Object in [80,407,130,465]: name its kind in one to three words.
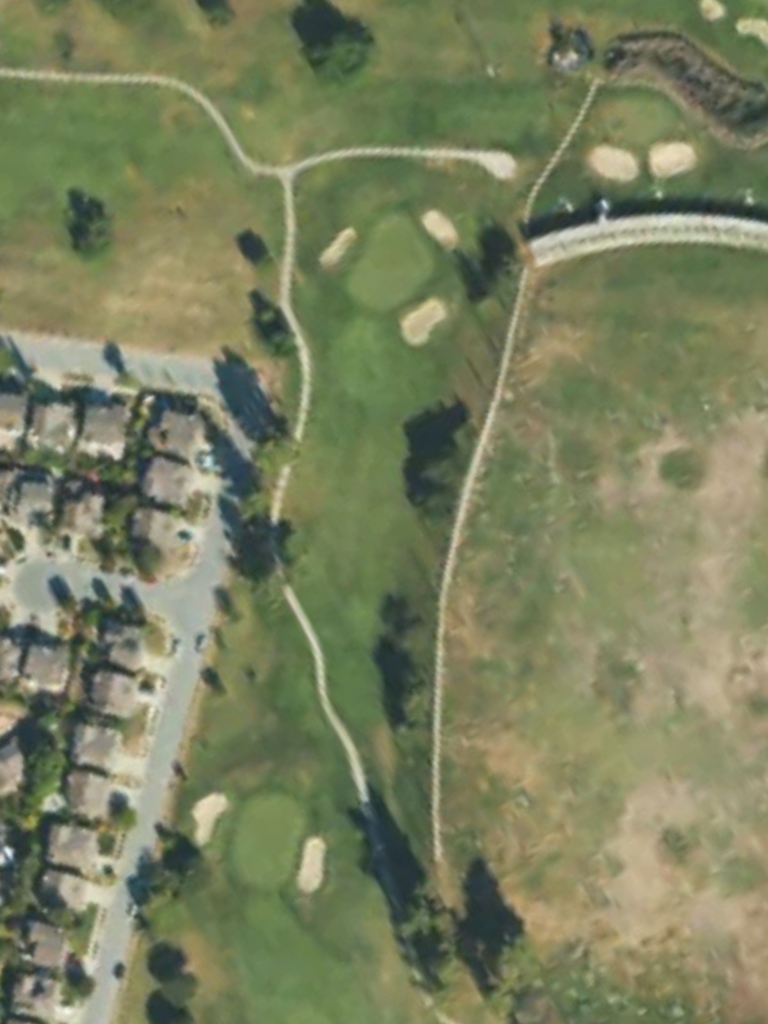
house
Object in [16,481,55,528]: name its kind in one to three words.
house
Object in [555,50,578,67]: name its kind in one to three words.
shed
